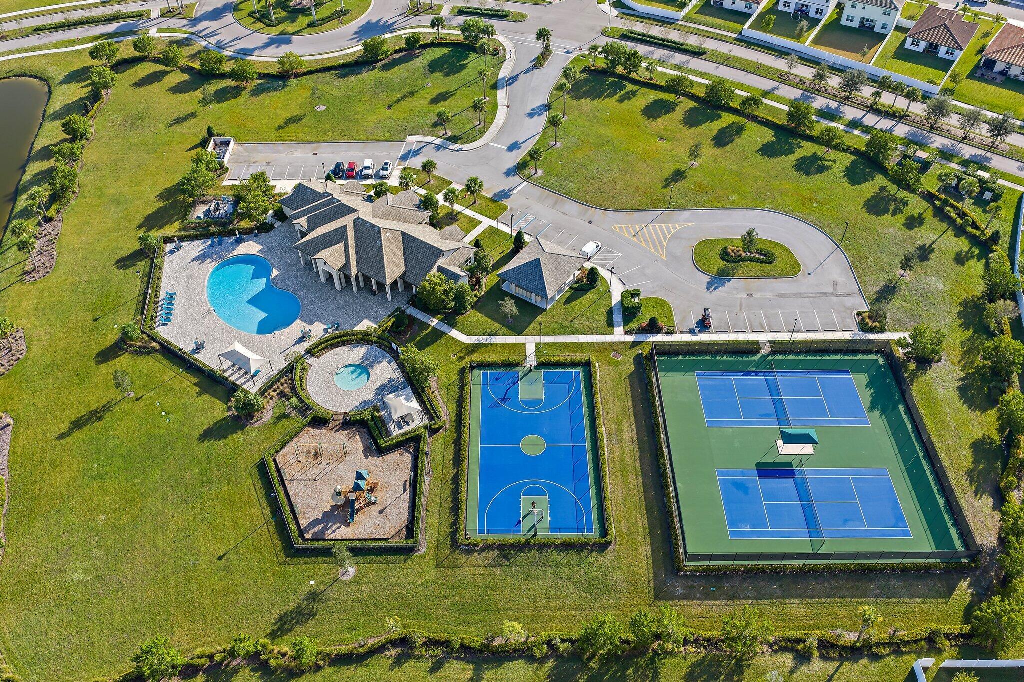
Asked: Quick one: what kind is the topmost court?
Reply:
tennis court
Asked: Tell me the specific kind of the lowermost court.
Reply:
tennis court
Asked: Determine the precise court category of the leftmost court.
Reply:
basketball court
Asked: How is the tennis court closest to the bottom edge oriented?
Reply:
horizontally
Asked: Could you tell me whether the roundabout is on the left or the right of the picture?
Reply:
left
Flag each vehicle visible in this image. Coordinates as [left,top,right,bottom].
[332,159,345,176]
[379,159,391,175]
[703,307,715,326]
[346,160,358,176]
[362,157,374,176]
[582,239,606,259]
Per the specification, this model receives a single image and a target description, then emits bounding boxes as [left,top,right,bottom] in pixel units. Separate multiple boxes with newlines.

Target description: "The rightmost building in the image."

[984,22,1024,76]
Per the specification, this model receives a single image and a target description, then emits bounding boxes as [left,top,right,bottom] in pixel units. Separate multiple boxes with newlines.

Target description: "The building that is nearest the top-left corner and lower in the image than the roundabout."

[205,136,232,166]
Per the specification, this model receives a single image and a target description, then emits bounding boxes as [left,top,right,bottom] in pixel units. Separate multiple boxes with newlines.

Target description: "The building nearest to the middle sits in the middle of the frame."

[497,236,587,308]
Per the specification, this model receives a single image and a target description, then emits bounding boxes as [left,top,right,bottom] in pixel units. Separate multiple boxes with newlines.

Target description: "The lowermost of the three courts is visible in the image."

[718,458,915,544]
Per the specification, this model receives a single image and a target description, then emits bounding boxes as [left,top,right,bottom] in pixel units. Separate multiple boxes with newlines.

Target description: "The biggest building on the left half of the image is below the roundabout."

[277,179,479,301]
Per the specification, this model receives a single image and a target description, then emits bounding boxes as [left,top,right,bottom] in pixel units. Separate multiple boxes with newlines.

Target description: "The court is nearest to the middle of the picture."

[477,372,594,536]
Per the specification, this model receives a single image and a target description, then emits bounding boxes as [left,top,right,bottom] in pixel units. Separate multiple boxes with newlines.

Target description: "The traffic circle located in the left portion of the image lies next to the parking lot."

[188,0,412,56]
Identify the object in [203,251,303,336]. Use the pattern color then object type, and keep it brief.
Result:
blue swimming pool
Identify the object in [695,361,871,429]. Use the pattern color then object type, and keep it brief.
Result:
blue tennis court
